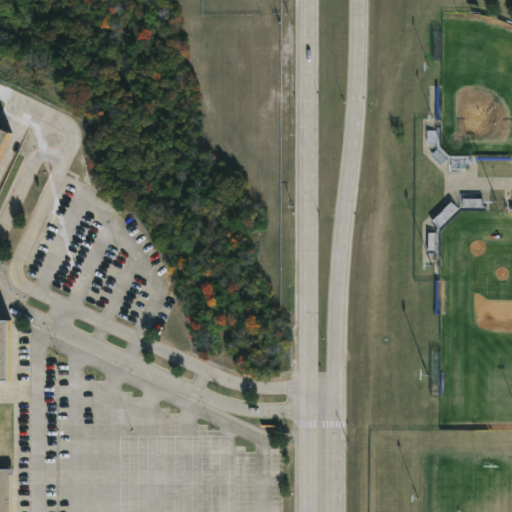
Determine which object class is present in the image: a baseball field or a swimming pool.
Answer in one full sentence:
The image shows a baseball field.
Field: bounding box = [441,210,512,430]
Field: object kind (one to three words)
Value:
baseball field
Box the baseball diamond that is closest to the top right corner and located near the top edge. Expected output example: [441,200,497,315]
[442,13,512,157]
